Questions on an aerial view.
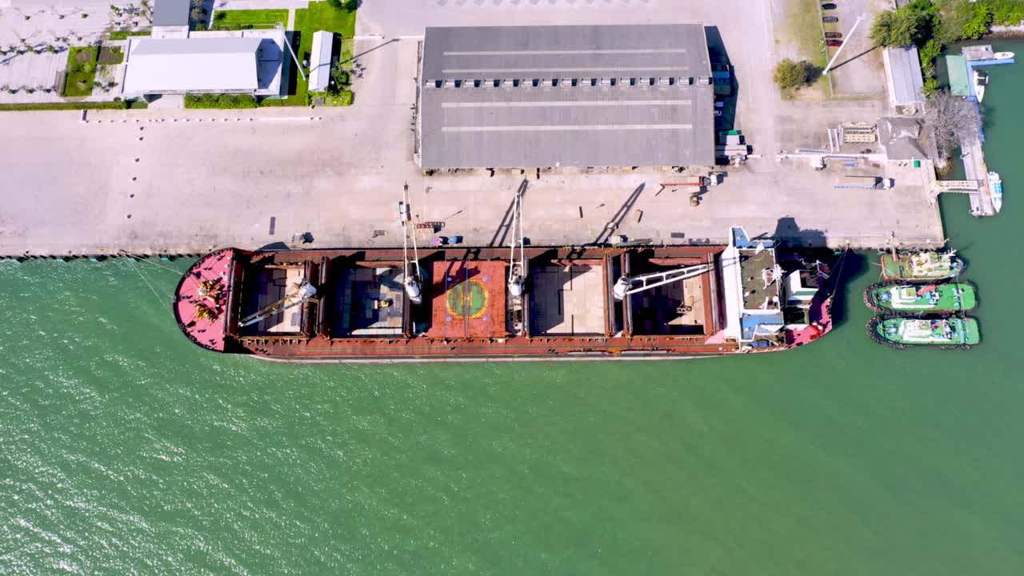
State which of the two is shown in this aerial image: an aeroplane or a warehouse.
warehouse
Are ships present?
Yes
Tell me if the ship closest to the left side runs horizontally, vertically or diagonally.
horizontally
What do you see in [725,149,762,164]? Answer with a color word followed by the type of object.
white work vehicle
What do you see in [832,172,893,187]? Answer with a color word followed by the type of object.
white vehicle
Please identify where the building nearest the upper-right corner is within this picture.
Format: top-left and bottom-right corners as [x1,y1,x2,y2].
[944,55,971,99]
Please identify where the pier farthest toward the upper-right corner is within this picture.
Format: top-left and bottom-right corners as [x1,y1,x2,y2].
[960,45,993,62]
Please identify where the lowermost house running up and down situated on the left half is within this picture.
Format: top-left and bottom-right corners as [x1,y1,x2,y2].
[309,30,333,95]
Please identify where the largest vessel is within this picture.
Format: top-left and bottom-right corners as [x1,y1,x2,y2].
[169,184,834,366]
